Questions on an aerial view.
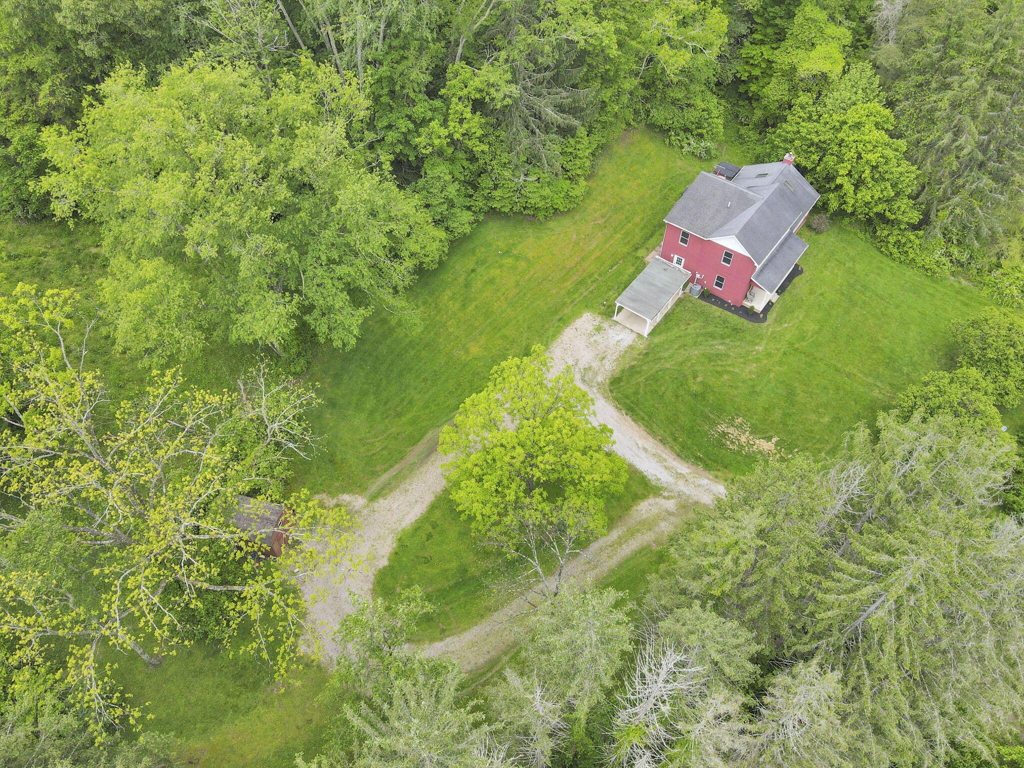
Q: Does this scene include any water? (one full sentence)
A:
No, water can't be seen anywhere here.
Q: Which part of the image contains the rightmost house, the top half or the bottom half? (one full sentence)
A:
Seen from above, the rightmost house lies in the top half of the view.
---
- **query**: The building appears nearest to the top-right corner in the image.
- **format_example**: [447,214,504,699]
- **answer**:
[659,152,821,312]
